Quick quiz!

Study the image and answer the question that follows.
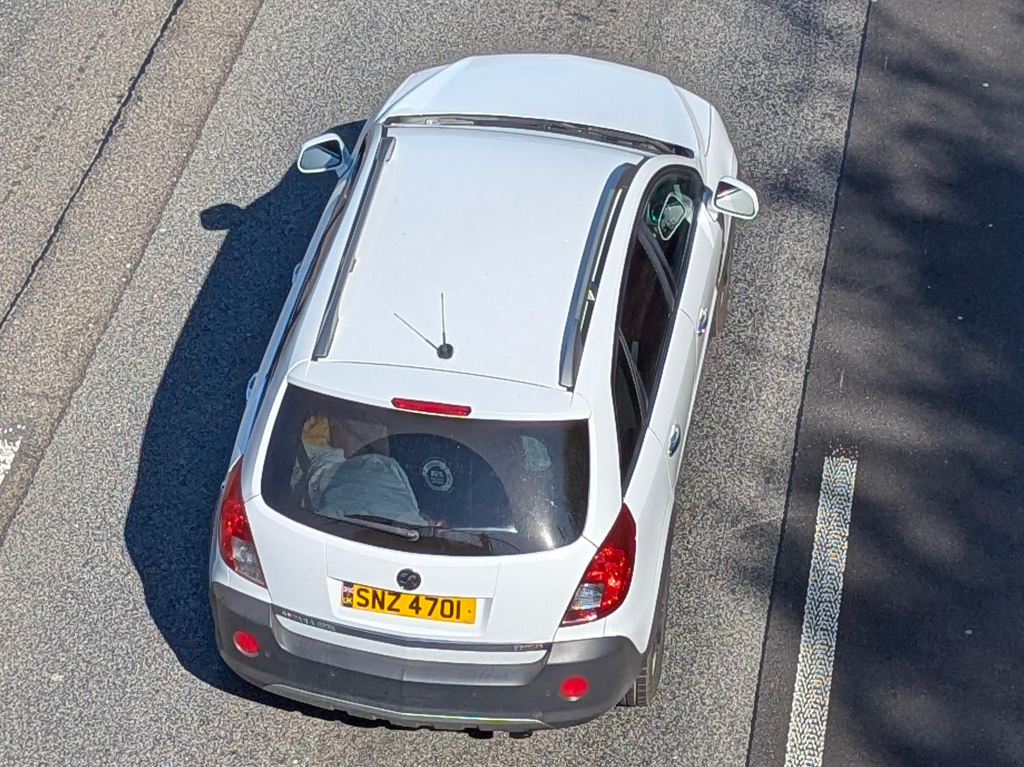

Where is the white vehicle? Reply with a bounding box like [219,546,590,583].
[209,53,758,744]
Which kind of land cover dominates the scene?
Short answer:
paved ground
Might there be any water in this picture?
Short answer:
No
